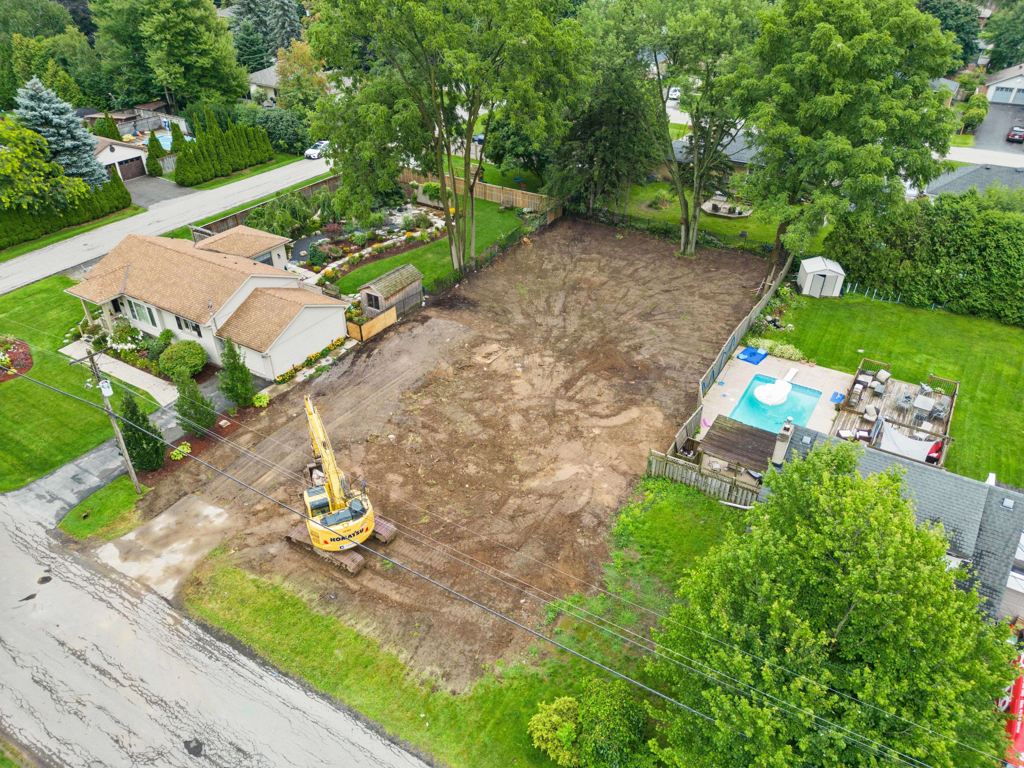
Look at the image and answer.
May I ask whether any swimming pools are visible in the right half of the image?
Yes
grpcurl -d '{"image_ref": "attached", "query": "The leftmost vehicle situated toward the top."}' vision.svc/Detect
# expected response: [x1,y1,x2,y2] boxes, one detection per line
[303,143,337,159]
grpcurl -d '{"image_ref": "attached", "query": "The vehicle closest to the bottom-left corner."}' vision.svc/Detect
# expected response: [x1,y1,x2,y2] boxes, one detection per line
[287,390,396,575]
